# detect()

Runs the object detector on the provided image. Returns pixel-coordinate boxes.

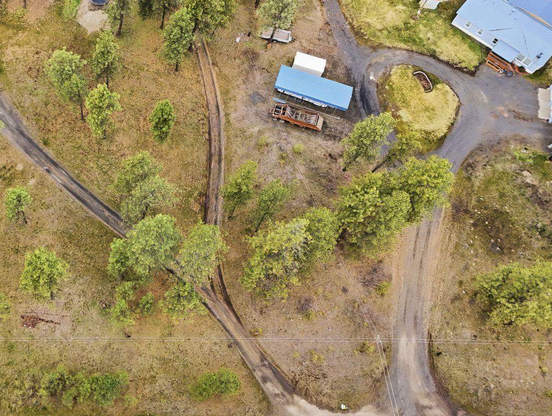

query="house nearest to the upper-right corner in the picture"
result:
[451,0,552,81]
